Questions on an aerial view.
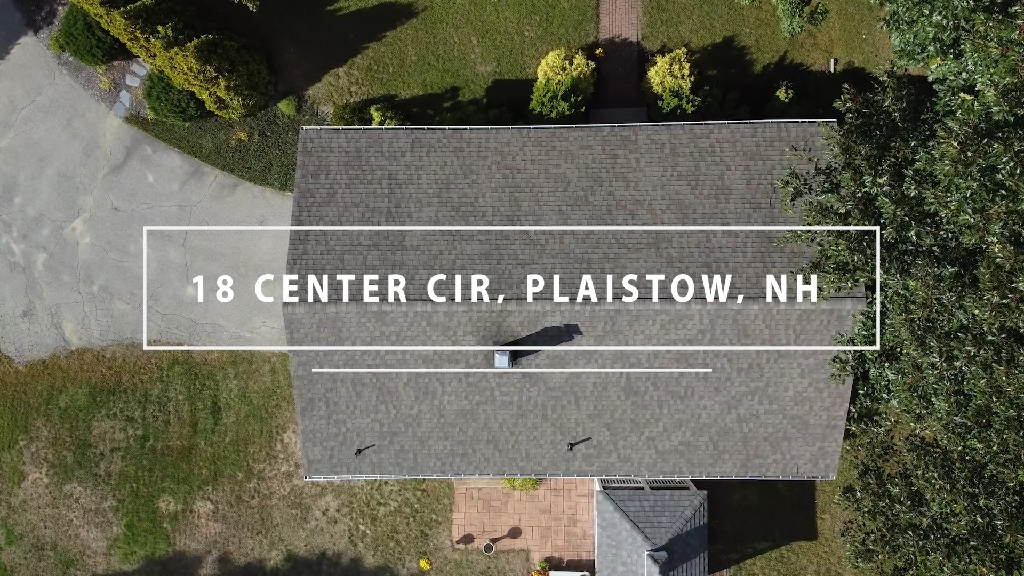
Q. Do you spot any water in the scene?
No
